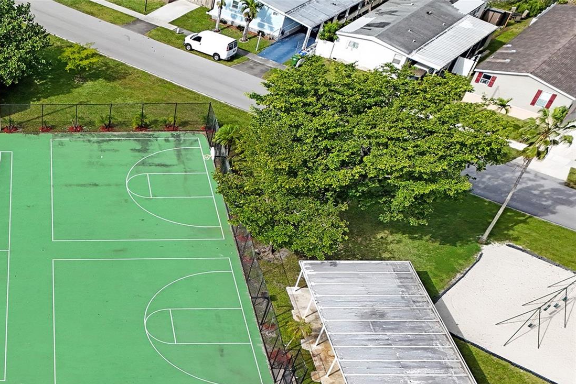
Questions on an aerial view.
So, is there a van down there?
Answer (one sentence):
Yes, the frame does contain a van.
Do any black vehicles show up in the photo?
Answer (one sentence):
No, no black vehicle is visible in the scene.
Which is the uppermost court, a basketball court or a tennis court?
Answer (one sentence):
The uppermost court can be classified as a basketball court.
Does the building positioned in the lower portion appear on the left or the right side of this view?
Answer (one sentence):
You can find the building positioned in the lower portion on the right side of the picture.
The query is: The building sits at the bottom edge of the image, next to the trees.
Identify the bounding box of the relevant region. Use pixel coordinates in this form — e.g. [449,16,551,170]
[285,261,474,384]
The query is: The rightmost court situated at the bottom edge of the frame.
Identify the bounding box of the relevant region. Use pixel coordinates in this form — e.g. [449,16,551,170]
[30,248,273,384]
